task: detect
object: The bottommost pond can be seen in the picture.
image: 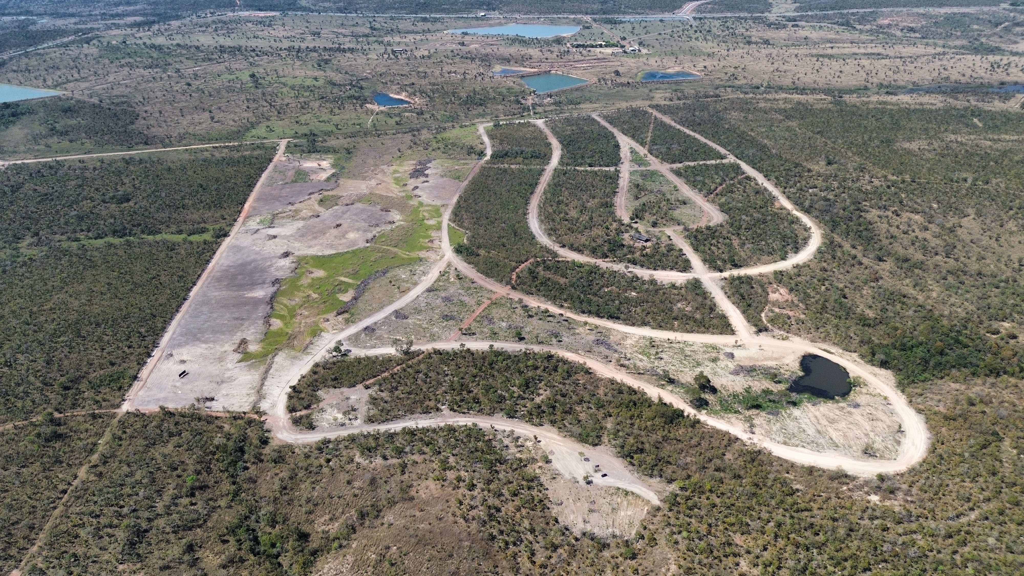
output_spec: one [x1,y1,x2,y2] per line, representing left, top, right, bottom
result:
[788,354,852,399]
